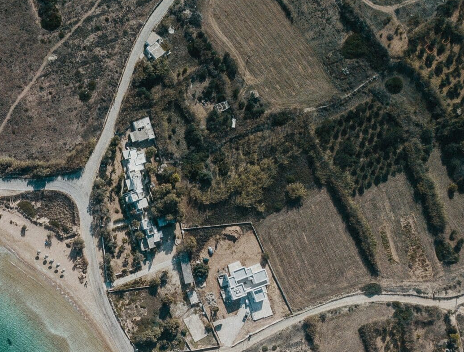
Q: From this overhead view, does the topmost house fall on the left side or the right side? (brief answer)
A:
left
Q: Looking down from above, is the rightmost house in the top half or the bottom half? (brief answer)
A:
bottom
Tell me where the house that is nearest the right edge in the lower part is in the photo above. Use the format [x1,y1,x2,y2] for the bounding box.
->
[217,261,273,321]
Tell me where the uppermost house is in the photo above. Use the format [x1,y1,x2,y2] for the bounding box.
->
[145,31,170,62]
